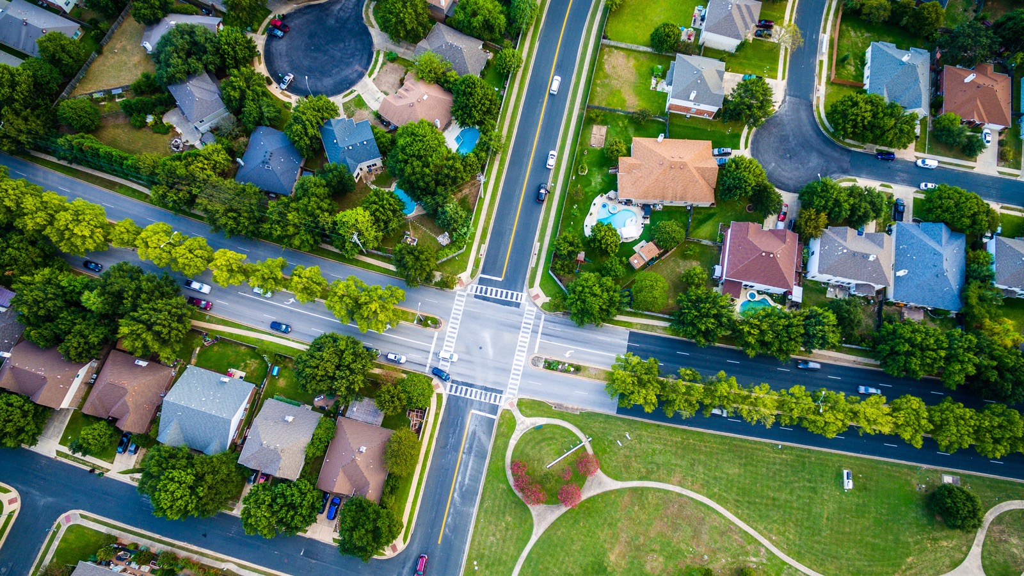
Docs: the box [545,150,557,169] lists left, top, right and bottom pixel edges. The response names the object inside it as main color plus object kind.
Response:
white vehicle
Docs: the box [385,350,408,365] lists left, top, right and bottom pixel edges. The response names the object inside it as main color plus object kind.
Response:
white car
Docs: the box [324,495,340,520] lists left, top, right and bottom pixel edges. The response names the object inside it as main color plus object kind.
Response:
blue car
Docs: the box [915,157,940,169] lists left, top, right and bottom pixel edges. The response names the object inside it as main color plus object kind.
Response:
white vehicle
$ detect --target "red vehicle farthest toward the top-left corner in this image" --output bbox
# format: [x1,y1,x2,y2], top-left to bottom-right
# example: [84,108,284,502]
[268,17,291,32]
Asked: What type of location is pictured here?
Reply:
residential area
